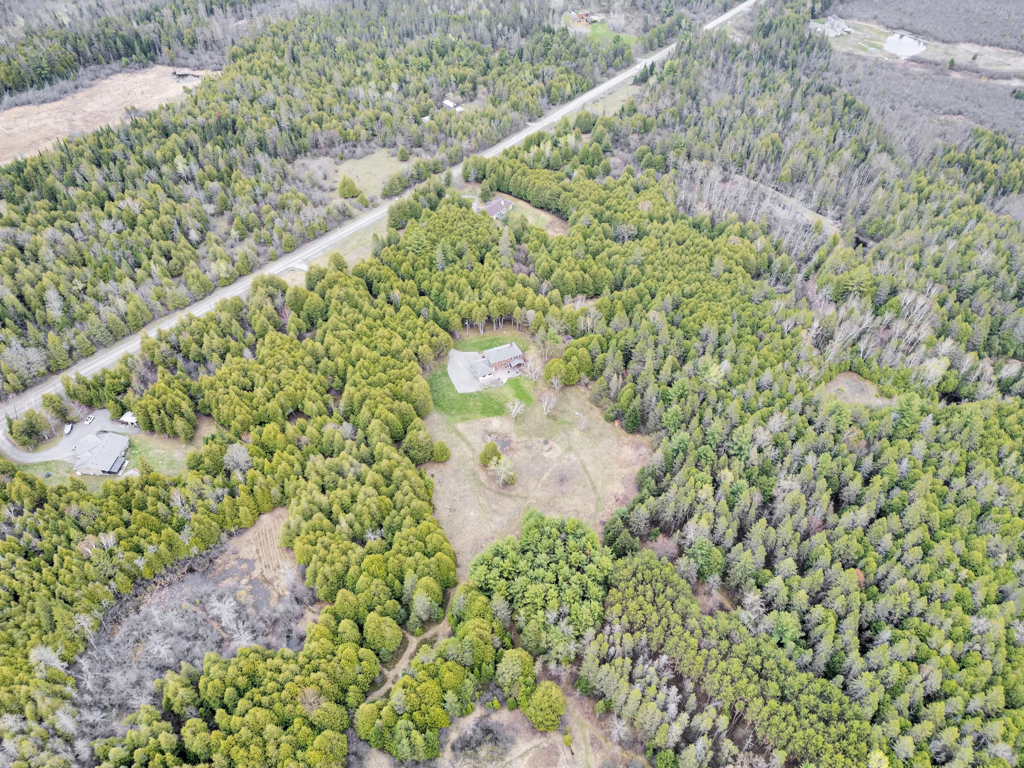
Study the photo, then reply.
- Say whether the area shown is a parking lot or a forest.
forest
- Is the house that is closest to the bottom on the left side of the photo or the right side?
left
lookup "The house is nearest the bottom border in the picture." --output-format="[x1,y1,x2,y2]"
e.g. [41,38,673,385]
[69,434,130,476]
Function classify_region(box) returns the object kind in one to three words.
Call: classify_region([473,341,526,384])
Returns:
house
